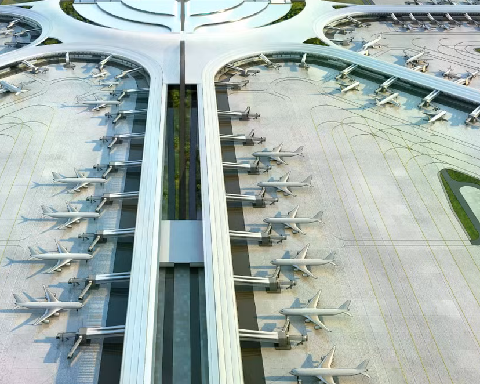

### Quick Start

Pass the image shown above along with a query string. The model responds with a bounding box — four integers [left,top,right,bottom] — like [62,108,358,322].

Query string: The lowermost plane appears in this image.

[290,340,374,384]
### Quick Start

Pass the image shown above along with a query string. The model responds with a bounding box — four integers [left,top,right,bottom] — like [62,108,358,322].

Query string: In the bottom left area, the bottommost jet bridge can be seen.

[54,327,127,362]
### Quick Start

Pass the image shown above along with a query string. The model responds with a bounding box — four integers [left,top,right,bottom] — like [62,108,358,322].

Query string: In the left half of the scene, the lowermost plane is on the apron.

[11,280,84,326]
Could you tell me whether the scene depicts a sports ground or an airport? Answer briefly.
airport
